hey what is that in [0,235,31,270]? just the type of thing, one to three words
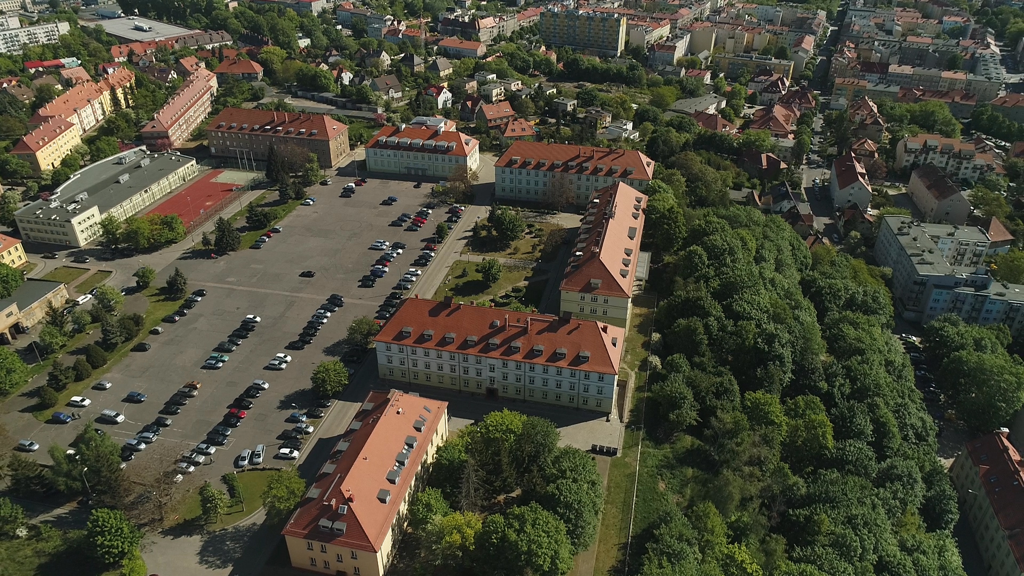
house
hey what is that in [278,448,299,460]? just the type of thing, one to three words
vehicle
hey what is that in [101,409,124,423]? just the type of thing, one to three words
vehicle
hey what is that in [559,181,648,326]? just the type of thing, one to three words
building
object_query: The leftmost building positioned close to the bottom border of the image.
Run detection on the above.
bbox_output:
[281,389,450,576]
